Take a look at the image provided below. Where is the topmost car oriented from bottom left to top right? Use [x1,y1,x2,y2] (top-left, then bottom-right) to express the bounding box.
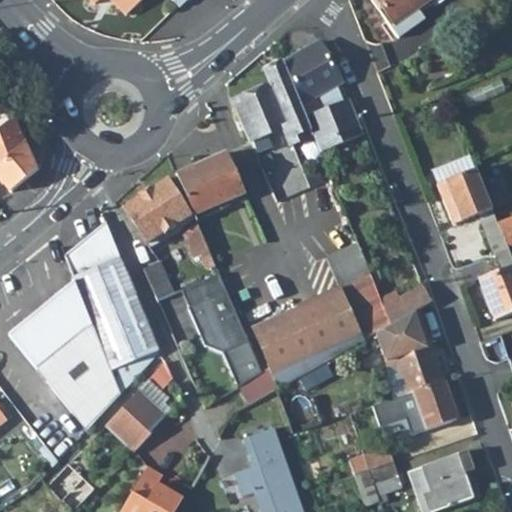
[210,49,233,70]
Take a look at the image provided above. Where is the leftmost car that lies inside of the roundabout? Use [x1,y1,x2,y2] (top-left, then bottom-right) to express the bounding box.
[62,96,79,117]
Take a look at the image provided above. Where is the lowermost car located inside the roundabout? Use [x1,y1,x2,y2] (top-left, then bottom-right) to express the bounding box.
[98,130,122,144]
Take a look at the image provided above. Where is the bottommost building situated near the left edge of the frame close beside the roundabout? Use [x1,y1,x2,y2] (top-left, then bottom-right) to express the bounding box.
[9,225,160,428]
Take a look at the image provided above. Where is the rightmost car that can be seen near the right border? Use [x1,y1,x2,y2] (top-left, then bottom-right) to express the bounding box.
[493,340,508,361]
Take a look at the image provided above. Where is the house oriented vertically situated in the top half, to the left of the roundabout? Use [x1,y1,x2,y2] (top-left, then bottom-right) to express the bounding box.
[0,112,40,192]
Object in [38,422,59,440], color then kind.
white car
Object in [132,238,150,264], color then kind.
white vehicle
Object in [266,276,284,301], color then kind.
white vehicle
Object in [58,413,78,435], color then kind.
white car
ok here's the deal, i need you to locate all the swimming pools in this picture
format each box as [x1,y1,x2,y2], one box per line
[292,398,318,422]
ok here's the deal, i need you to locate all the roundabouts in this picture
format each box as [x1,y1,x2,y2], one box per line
[52,40,185,170]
